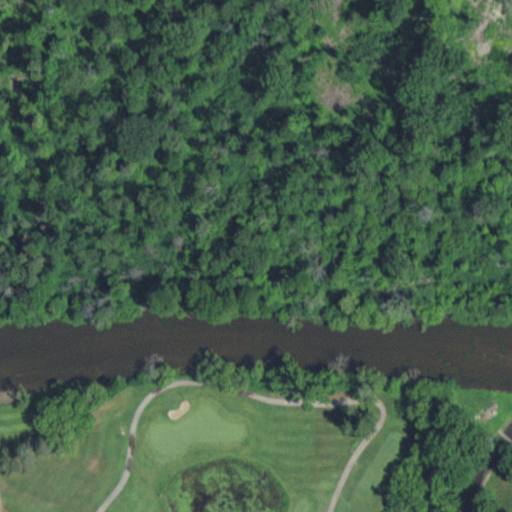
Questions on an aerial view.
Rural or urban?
rural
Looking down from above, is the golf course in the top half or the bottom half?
bottom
